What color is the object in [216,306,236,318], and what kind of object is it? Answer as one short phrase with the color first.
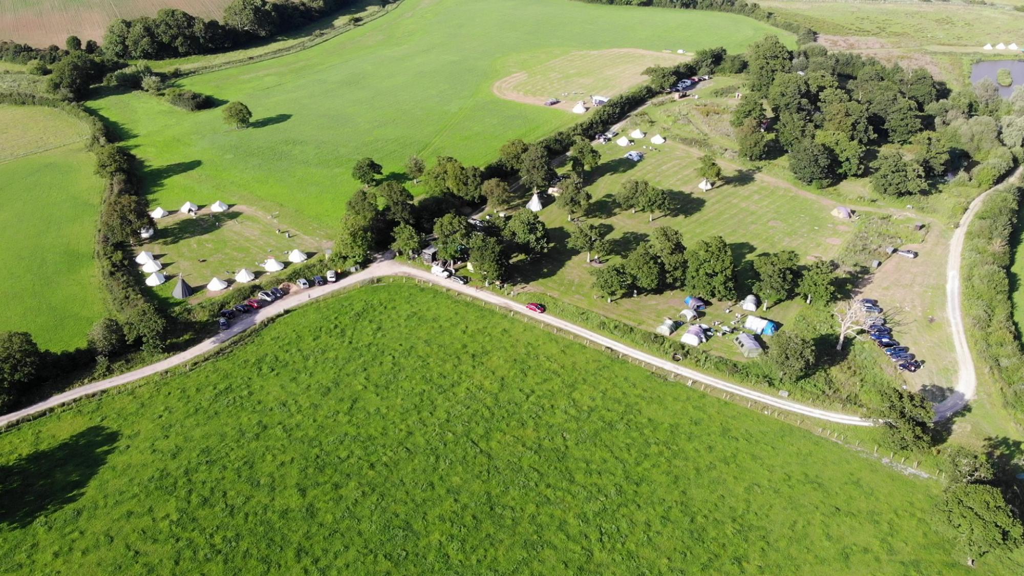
black vehicle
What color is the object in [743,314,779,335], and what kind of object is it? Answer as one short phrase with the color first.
white tent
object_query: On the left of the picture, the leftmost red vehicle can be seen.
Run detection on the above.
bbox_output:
[246,295,262,307]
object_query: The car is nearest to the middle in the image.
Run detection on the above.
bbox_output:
[526,299,544,311]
